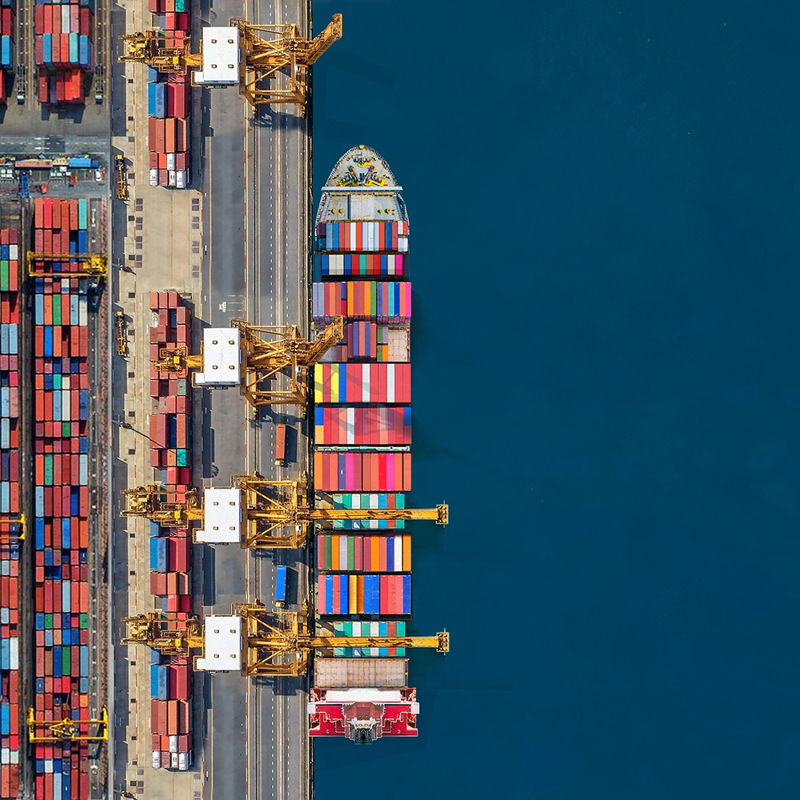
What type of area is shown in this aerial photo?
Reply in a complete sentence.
What you see here is a port.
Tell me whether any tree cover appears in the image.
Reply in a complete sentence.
No, tree cover can't be seen anywhere here.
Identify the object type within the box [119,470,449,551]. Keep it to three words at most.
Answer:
container crane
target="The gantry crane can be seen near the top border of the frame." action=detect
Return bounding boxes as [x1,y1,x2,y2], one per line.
[119,8,344,121]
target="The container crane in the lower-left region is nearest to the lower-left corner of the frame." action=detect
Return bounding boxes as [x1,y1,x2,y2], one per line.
[28,708,111,742]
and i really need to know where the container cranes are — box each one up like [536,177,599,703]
[151,312,344,407]
[119,8,344,121]
[0,512,30,540]
[119,587,449,679]
[119,470,449,551]
[29,252,112,284]
[28,708,111,742]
